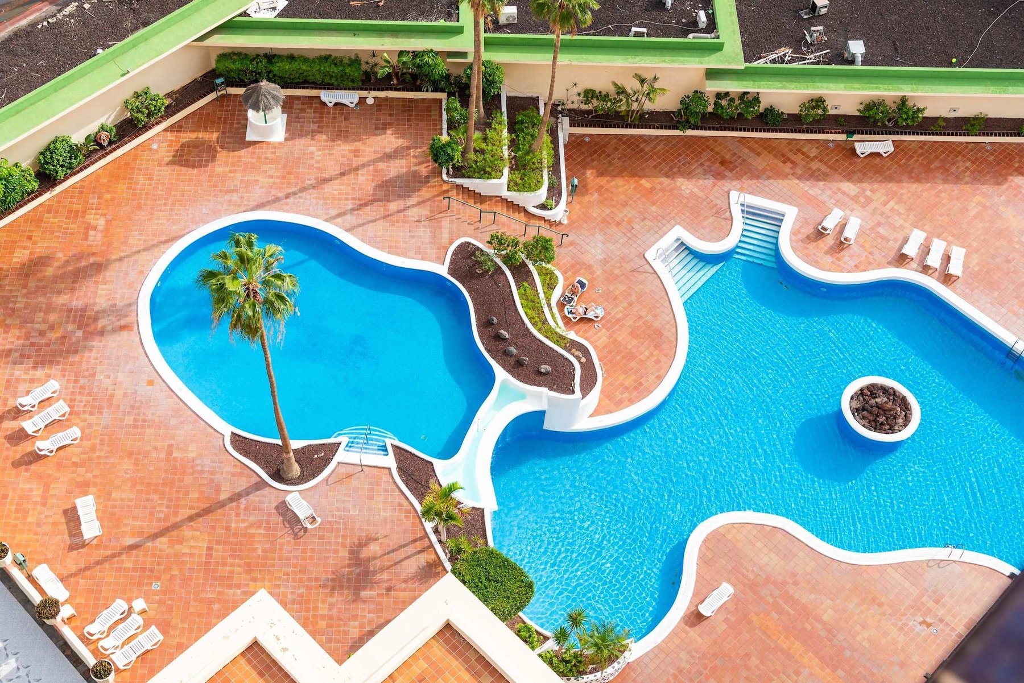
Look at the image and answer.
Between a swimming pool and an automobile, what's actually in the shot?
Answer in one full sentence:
Visible in the photo is a swimming pool.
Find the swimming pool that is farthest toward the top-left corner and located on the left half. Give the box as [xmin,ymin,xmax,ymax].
[137,210,506,470]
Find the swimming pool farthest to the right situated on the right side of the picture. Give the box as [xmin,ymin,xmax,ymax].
[493,190,1024,654]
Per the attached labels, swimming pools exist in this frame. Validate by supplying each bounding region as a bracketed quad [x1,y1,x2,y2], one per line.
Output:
[137,210,506,470]
[493,190,1024,654]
